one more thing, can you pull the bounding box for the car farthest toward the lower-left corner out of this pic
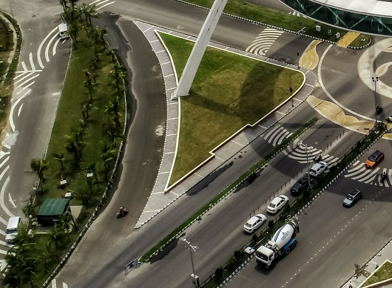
[2,209,23,238]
